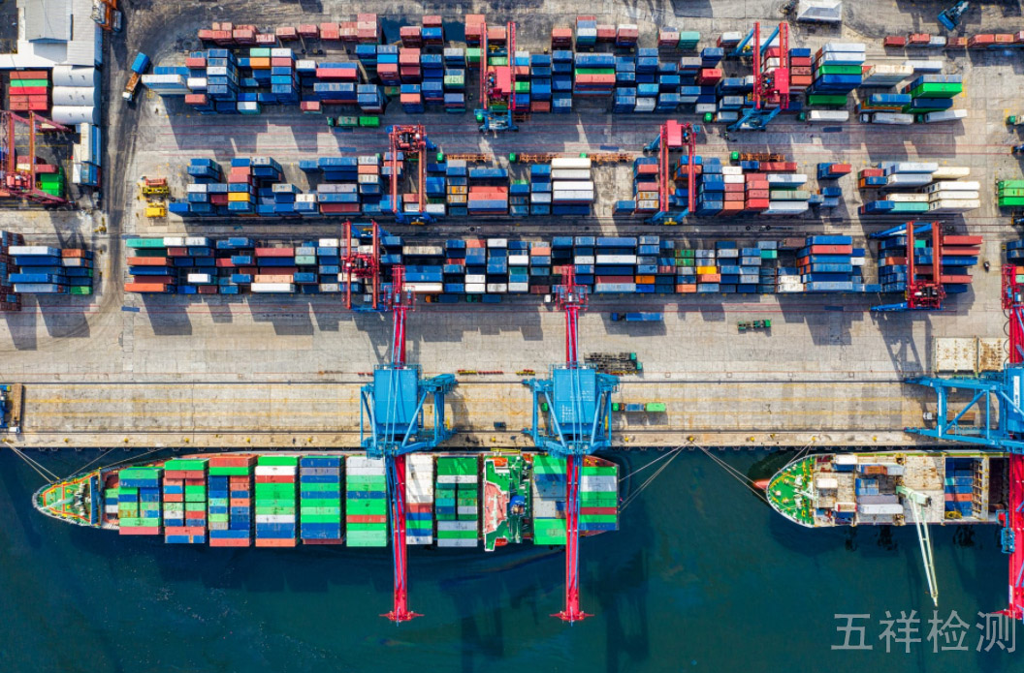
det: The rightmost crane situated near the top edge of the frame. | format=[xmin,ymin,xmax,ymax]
[730,21,793,128]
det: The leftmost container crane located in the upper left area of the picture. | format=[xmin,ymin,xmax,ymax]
[4,109,83,208]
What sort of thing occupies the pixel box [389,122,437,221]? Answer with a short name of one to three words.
container crane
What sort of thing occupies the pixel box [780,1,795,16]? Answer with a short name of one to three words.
work vehicle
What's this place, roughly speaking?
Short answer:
port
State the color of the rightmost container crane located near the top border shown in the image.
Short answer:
red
